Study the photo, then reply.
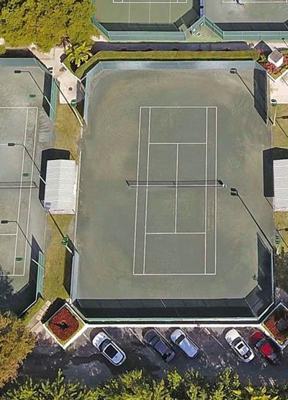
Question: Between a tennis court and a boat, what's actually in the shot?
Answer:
tennis court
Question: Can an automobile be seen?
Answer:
Yes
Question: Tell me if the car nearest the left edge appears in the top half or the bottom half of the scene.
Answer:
bottom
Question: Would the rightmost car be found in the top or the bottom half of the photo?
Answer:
bottom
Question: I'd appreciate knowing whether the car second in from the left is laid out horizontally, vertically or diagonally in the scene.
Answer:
diagonally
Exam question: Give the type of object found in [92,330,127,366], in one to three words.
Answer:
car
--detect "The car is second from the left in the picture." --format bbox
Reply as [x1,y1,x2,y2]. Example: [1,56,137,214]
[143,328,177,363]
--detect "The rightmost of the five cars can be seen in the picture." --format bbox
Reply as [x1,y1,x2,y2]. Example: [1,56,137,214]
[249,330,281,365]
